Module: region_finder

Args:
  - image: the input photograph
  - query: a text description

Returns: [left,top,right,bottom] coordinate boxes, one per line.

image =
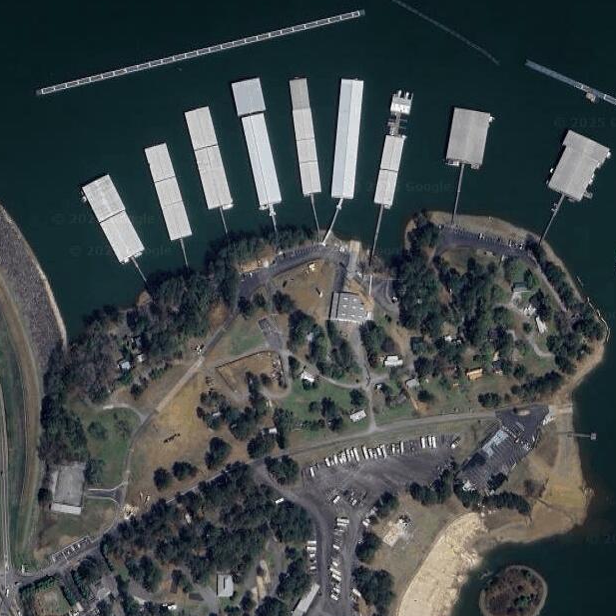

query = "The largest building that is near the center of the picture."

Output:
[330,292,365,323]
